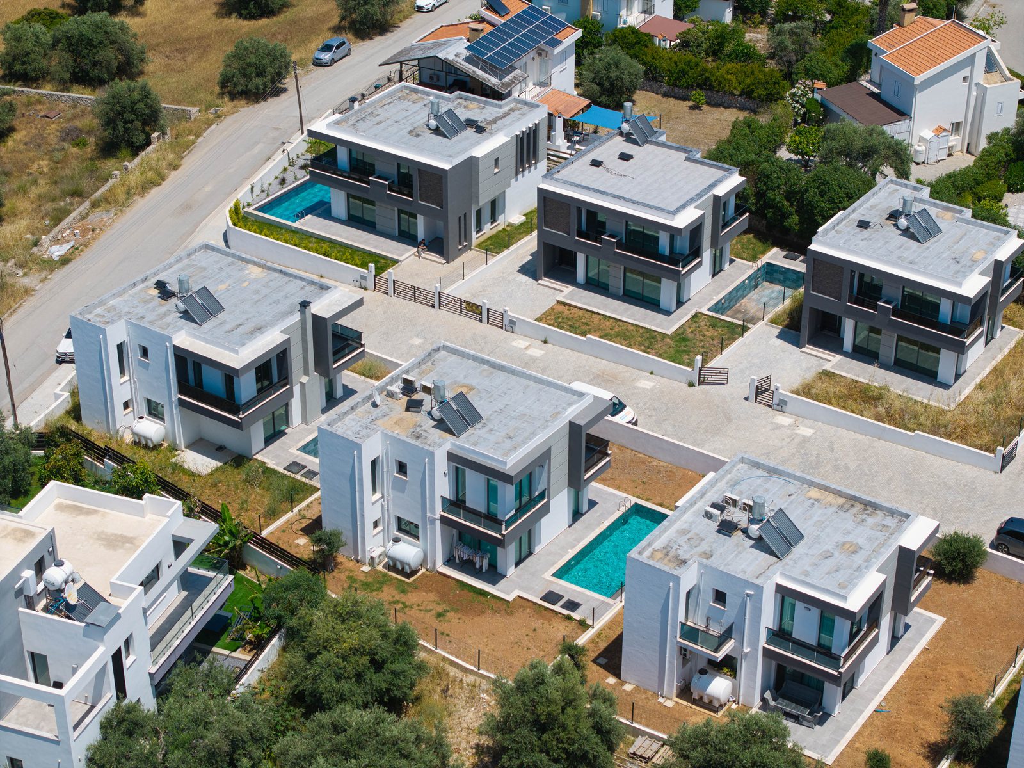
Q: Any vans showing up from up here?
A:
Yes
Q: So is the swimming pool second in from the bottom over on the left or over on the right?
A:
left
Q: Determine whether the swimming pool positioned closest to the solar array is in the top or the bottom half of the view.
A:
top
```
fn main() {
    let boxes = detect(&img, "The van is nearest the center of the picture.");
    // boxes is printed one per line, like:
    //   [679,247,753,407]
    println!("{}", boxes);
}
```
[565,376,639,429]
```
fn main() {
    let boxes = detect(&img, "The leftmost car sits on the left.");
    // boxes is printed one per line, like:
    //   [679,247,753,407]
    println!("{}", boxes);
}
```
[55,331,73,359]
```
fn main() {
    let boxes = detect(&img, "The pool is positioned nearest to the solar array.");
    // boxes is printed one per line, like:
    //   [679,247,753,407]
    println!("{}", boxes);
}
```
[252,177,333,225]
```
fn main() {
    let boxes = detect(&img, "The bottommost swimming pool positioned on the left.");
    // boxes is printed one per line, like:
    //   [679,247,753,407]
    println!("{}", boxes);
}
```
[287,430,319,463]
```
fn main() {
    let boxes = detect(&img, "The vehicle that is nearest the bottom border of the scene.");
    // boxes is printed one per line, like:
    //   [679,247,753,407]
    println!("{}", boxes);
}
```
[992,516,1024,558]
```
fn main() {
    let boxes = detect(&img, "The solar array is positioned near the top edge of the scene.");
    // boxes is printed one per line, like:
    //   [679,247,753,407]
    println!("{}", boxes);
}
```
[465,5,585,104]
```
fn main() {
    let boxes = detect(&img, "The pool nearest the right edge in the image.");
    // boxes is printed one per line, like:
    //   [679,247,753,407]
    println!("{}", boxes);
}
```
[698,254,805,325]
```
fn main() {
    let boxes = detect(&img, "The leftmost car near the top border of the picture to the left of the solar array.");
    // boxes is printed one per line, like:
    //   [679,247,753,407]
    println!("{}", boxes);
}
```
[316,34,362,65]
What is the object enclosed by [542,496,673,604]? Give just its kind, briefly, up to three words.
swimming pool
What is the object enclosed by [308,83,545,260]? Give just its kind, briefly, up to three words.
house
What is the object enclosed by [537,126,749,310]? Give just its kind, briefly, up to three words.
house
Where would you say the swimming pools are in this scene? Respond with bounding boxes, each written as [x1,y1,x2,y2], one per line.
[542,496,673,604]
[252,177,333,225]
[698,254,805,325]
[287,430,319,463]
